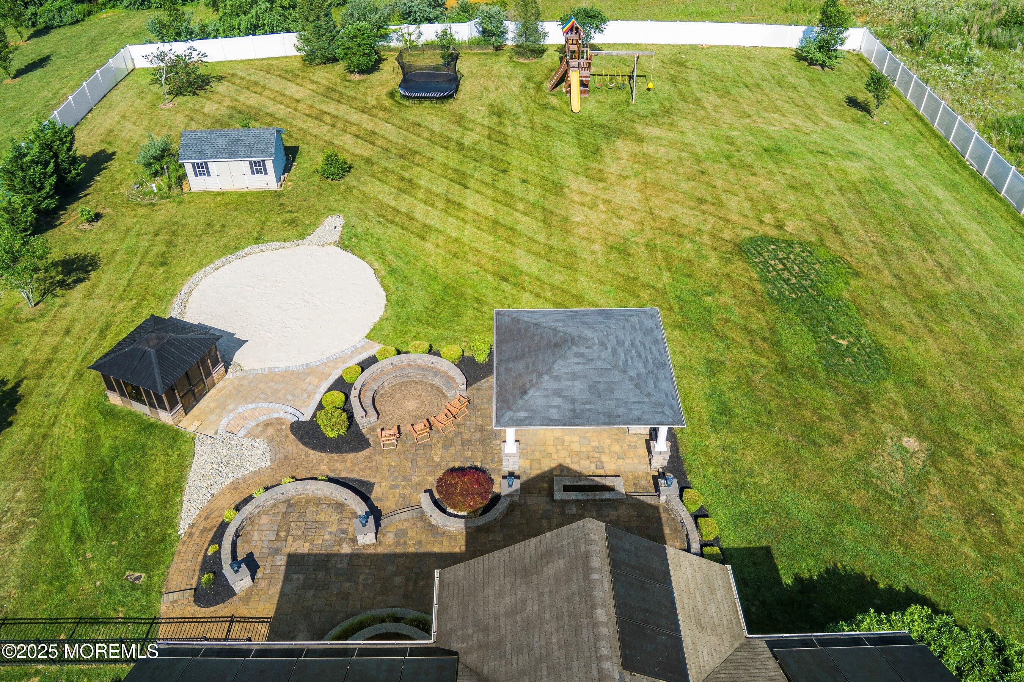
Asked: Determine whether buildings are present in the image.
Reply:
Yes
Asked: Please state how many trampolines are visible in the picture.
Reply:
one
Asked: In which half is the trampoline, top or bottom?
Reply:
top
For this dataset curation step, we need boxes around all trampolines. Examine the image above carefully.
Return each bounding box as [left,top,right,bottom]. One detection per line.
[394,47,461,107]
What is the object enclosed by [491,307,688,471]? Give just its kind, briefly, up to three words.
building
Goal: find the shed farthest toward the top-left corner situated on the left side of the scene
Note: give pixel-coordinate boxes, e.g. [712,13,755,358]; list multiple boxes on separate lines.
[176,125,287,191]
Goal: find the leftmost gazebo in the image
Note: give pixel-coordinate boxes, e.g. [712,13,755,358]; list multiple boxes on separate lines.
[83,312,227,428]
